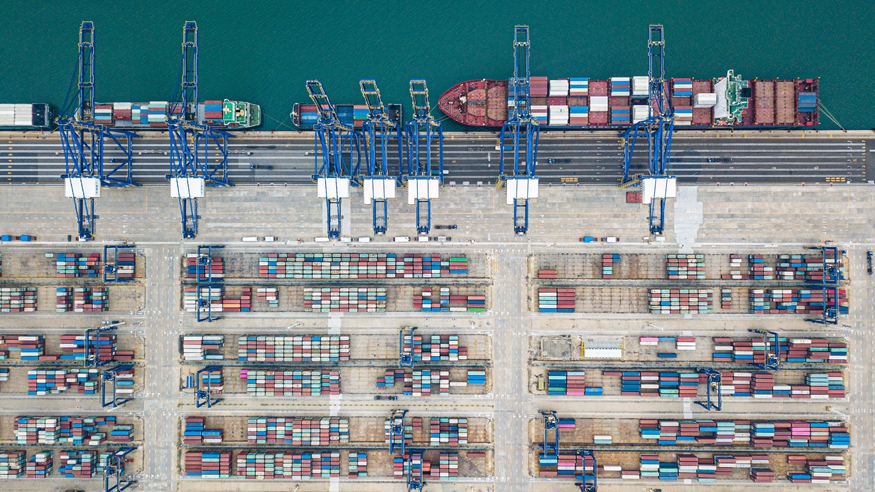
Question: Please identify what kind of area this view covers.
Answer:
port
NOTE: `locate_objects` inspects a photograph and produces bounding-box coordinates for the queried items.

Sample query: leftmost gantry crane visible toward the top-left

[51,22,144,241]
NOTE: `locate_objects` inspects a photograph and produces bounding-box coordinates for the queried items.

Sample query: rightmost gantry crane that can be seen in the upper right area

[612,22,684,241]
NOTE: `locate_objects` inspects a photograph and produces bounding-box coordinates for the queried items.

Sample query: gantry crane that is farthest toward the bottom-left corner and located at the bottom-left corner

[104,444,139,492]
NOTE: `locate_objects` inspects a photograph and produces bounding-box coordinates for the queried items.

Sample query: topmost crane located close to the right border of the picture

[802,248,840,284]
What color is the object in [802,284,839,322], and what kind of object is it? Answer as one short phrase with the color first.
blue container crane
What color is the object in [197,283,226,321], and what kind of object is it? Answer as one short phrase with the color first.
blue container crane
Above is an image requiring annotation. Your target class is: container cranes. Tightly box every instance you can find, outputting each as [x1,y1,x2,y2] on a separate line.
[402,74,449,241]
[357,74,404,241]
[802,284,839,322]
[85,326,120,366]
[197,247,226,282]
[745,328,780,369]
[398,324,418,366]
[406,441,426,490]
[161,22,238,241]
[537,403,560,457]
[101,366,135,407]
[691,366,722,411]
[802,248,840,284]
[196,361,225,406]
[197,283,226,321]
[303,74,363,241]
[389,402,408,453]
[573,443,597,492]
[51,22,144,241]
[612,22,684,241]
[102,247,137,282]
[104,444,139,492]
[490,22,545,241]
